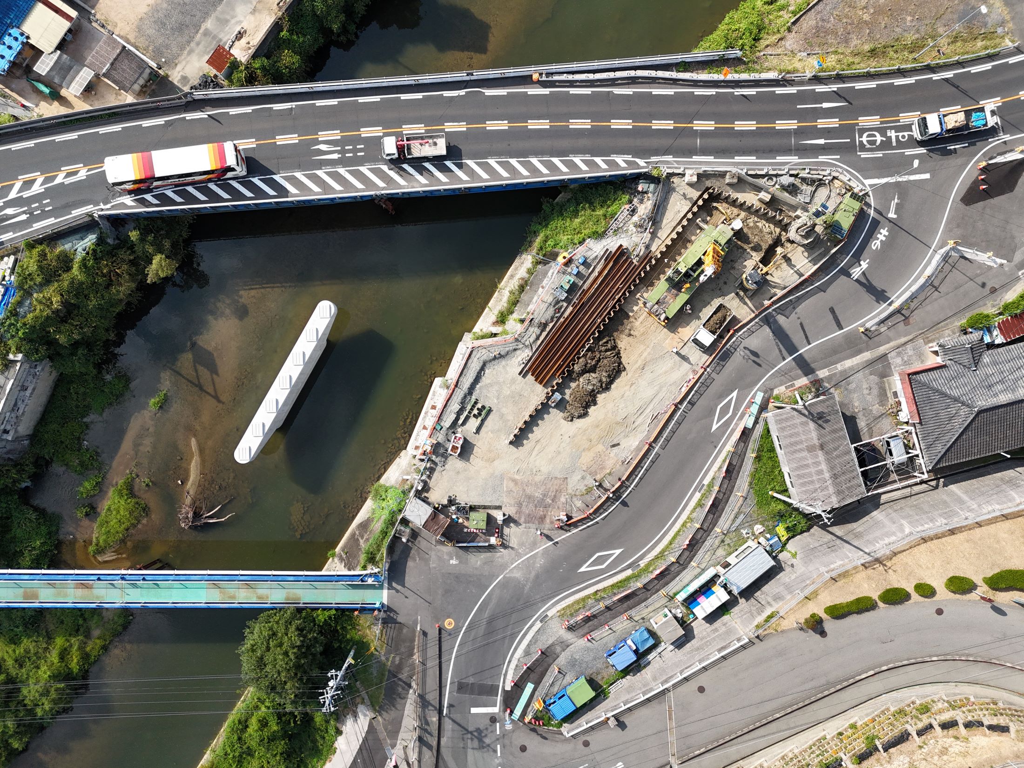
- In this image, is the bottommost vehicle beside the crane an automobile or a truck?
truck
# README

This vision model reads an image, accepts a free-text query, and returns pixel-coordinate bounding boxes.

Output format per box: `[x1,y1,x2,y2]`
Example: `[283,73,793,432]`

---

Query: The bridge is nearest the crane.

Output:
[99,46,741,227]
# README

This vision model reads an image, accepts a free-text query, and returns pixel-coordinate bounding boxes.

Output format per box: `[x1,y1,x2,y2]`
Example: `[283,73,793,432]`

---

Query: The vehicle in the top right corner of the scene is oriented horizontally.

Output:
[907,102,997,143]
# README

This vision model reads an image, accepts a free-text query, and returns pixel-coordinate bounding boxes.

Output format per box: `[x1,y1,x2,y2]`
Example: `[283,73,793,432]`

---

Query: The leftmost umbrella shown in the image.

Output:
[27,78,69,106]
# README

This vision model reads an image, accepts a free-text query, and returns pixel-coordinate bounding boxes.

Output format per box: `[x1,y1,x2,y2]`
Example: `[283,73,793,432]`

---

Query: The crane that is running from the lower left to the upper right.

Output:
[636,218,736,326]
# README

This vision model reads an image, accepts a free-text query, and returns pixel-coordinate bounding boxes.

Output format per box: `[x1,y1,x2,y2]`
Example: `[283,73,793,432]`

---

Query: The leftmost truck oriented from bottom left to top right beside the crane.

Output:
[685,299,739,355]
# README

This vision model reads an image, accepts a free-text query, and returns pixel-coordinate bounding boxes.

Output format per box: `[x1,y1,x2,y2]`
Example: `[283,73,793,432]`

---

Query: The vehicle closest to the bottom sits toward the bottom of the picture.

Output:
[540,670,601,729]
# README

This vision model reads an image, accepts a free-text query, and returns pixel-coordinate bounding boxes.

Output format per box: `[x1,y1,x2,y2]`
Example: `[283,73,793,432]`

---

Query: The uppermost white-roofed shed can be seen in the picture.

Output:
[19,0,78,57]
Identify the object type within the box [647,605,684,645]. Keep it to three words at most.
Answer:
shed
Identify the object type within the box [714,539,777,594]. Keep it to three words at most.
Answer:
shed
